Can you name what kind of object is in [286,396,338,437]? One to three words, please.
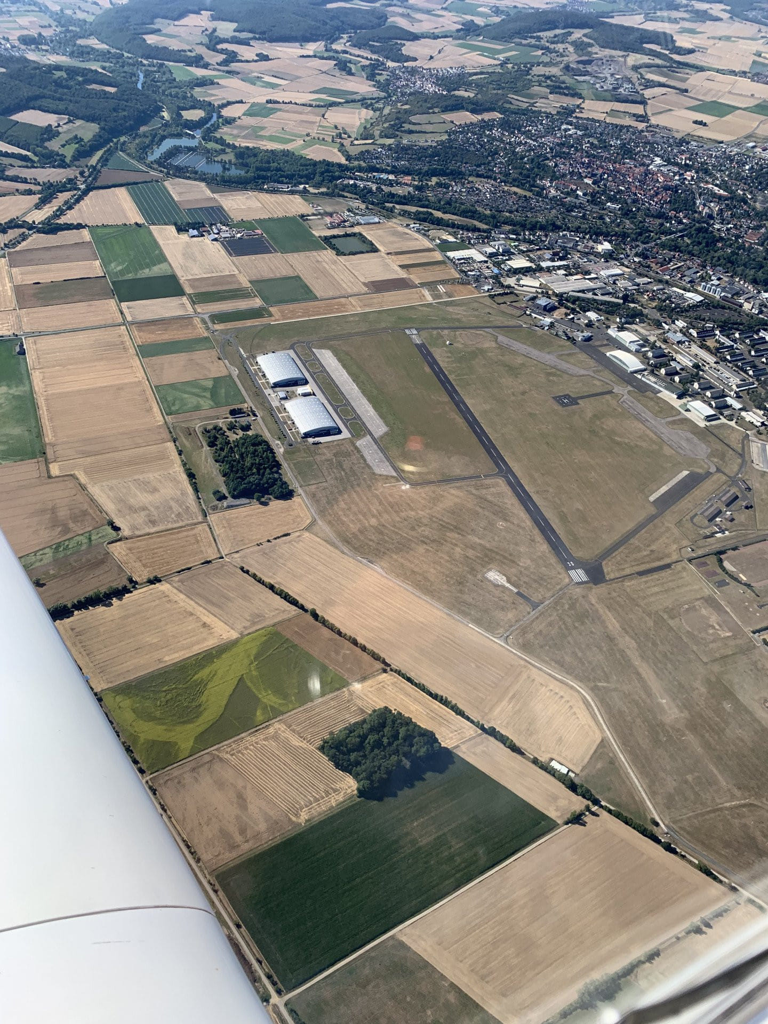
hangar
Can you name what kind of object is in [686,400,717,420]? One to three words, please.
hangar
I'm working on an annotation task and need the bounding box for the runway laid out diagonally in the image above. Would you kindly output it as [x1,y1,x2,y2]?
[406,327,591,586]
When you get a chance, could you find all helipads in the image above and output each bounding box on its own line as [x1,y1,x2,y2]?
[552,390,615,407]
